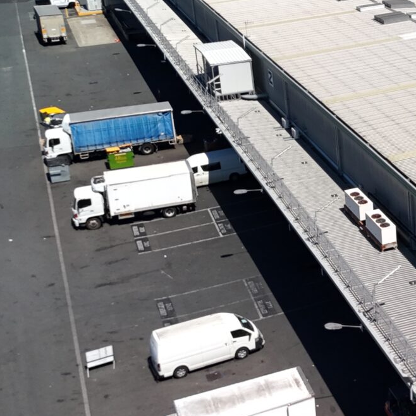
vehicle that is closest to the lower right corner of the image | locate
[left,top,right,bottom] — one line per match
[367,366,415,416]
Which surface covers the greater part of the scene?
paved ground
